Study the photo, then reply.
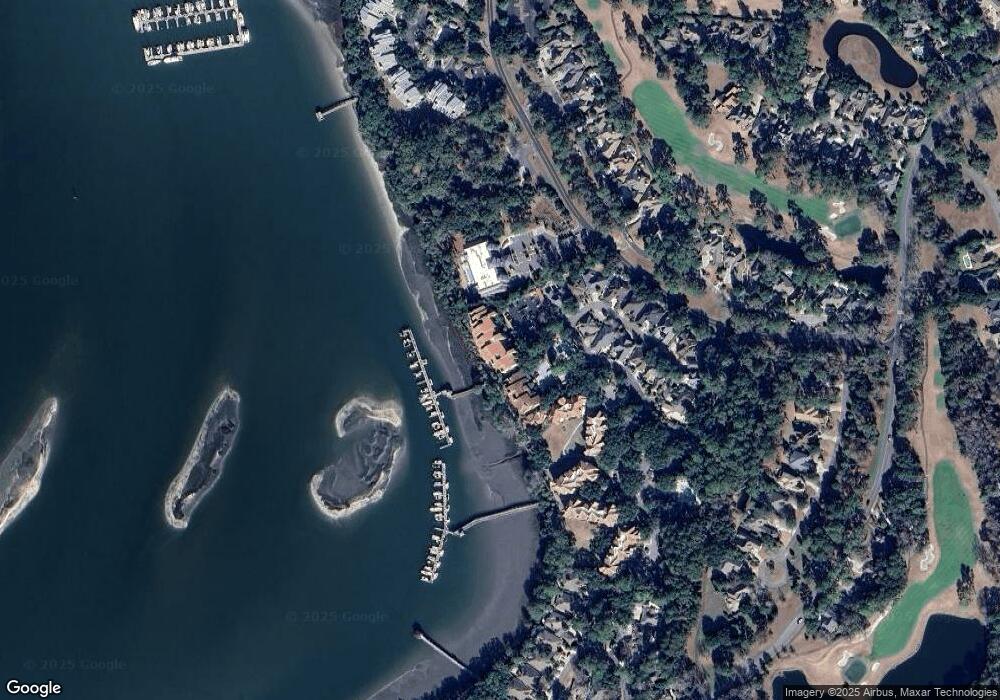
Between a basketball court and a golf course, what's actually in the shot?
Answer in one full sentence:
Looking from above, you can make out a golf course.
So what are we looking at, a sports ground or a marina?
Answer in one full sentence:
What you see here is a marina.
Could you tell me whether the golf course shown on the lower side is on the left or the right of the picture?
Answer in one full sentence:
The golf course shown on the lower side is on the right side of the image.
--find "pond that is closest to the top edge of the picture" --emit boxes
[823,21,917,88]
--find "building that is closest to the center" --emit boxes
[468,303,520,372]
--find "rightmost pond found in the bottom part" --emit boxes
[866,614,992,700]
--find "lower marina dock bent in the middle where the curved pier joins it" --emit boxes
[422,463,450,581]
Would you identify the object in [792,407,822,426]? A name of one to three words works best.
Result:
house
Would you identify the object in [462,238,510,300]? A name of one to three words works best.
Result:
building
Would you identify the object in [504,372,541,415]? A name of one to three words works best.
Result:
building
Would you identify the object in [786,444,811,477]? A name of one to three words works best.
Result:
house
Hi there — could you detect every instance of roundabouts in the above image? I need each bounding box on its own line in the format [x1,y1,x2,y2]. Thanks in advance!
[760,558,788,590]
